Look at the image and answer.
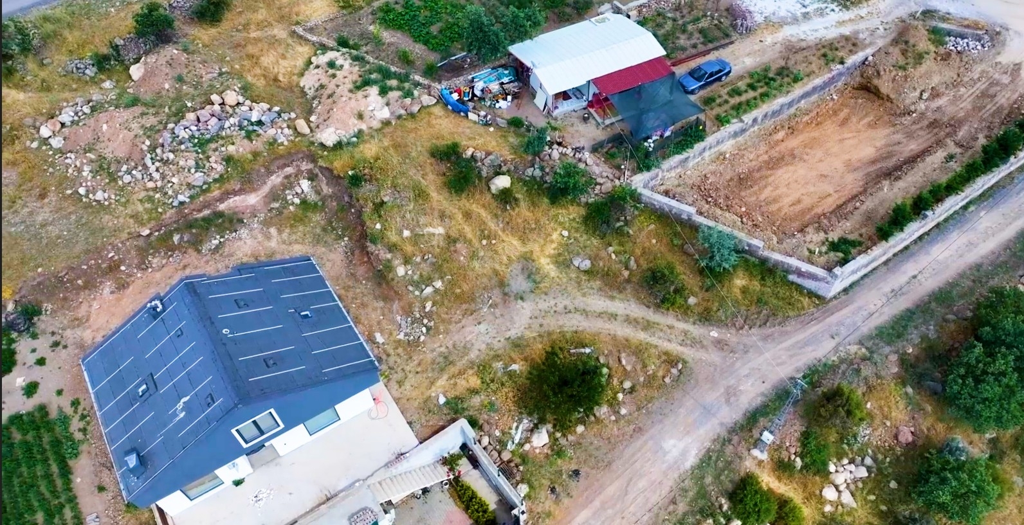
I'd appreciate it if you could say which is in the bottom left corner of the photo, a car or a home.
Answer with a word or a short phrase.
home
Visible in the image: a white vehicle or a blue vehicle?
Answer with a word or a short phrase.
blue vehicle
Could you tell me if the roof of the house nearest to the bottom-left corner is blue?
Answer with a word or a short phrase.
Yes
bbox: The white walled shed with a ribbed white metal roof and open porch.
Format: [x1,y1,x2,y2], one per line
[503,16,664,124]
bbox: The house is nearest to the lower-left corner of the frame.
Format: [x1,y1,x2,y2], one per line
[84,257,379,517]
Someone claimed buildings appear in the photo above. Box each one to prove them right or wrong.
[503,16,664,124]
[84,257,379,517]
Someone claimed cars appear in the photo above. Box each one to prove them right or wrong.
[681,56,735,93]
